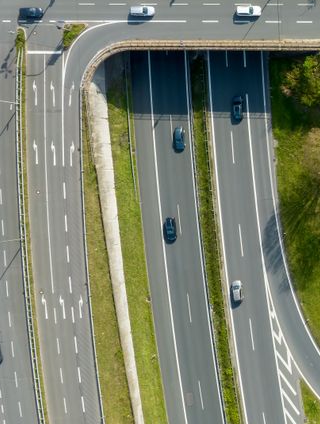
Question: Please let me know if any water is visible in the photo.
No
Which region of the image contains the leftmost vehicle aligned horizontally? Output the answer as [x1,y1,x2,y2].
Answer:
[18,7,45,19]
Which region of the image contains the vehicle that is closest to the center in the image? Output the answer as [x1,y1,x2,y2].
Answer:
[164,217,176,241]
